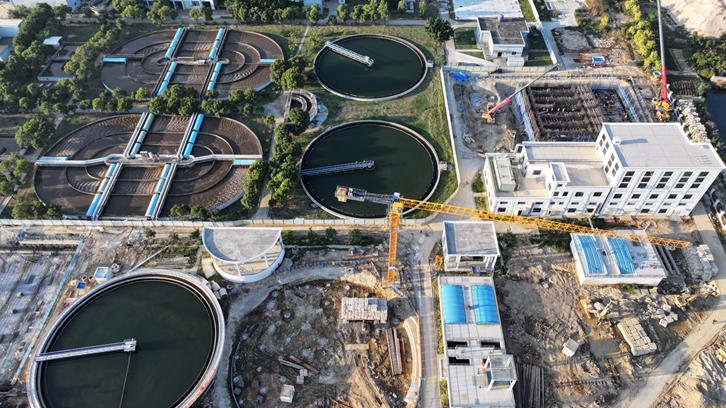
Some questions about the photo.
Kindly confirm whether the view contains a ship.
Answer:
No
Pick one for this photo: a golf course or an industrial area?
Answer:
industrial area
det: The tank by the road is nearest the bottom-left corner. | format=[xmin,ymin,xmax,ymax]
[26,268,226,408]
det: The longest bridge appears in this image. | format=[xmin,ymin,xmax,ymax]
[28,341,131,366]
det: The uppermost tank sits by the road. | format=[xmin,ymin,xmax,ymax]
[313,33,432,104]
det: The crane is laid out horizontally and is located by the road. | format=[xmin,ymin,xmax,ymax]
[335,184,696,290]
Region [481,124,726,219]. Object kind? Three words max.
building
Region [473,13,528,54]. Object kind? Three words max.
building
